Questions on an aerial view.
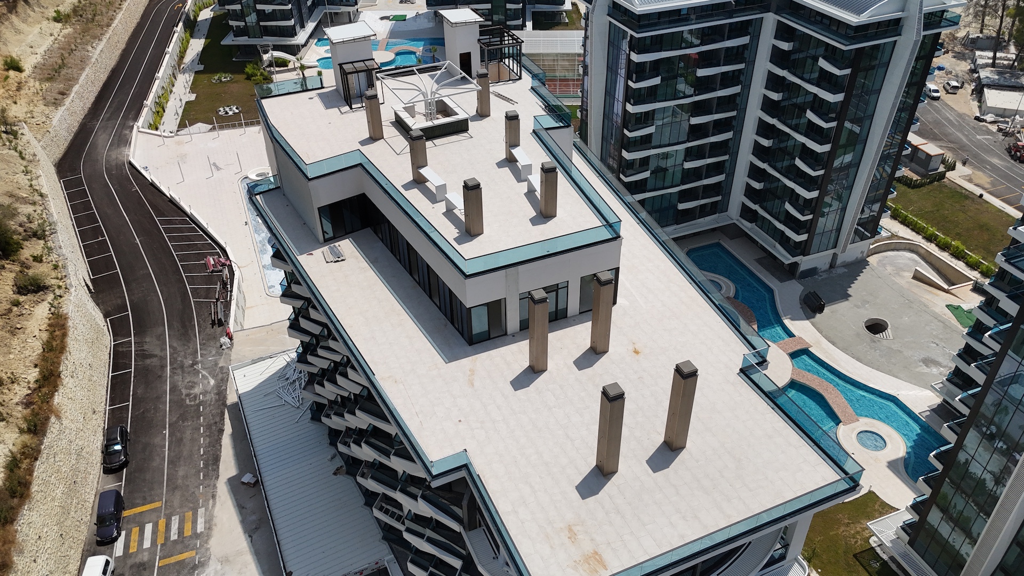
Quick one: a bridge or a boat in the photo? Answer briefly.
bridge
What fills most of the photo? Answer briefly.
buildings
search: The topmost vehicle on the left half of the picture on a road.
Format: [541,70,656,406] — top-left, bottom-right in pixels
[98,423,129,471]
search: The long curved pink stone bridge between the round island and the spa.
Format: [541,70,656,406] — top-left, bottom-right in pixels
[790,367,857,425]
